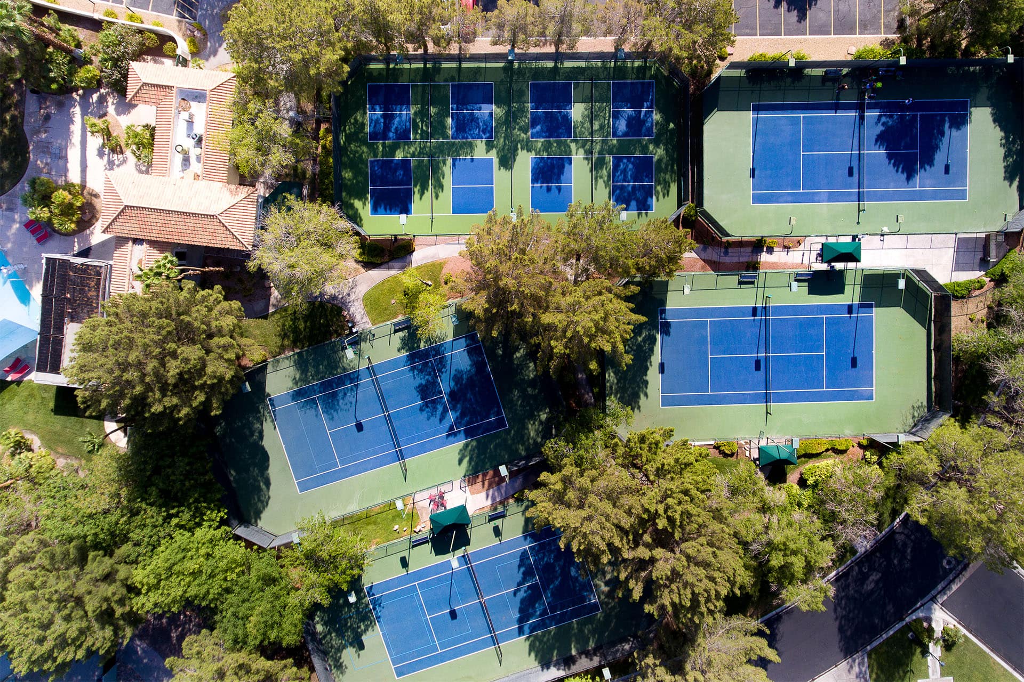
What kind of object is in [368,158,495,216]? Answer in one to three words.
sports court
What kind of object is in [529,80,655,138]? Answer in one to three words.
sports court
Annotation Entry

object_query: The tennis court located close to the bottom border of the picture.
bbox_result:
[309,483,657,682]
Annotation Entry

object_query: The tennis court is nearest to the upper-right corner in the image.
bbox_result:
[695,68,1019,237]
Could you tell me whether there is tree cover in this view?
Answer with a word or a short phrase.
Yes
